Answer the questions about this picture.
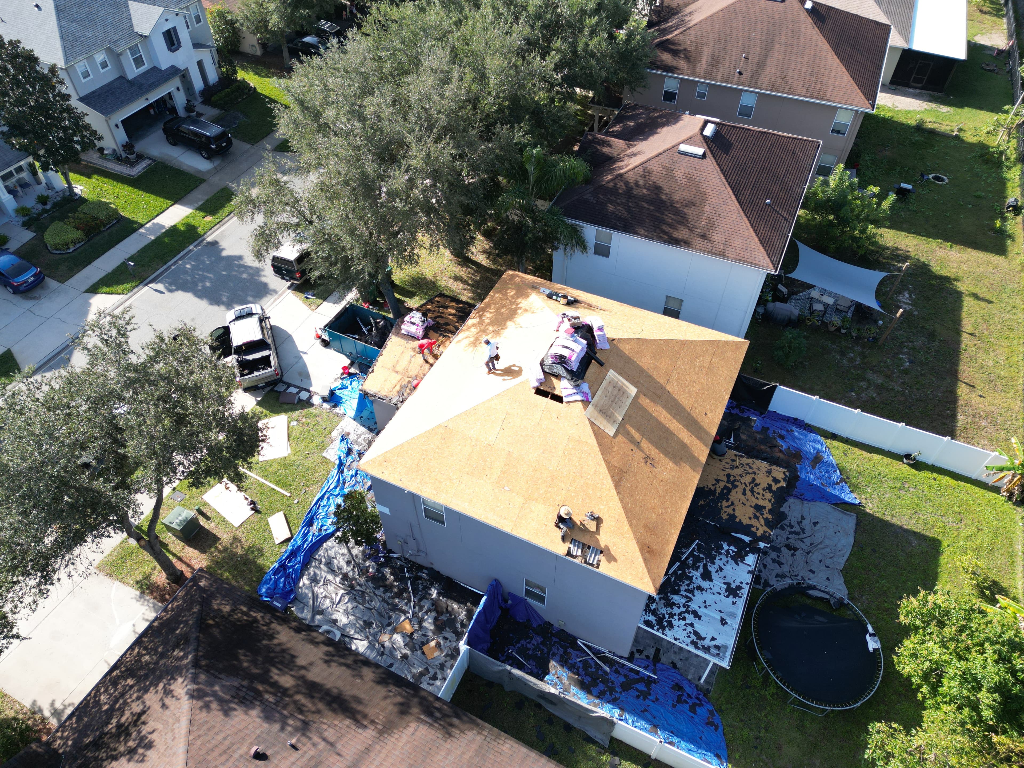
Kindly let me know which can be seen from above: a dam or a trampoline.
trampoline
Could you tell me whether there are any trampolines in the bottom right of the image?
Yes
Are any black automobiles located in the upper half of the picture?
Yes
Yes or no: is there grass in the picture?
Yes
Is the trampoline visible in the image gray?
No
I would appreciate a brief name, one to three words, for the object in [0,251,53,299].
car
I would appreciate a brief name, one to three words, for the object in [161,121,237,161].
car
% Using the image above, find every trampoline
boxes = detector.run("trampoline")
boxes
[743,581,885,716]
